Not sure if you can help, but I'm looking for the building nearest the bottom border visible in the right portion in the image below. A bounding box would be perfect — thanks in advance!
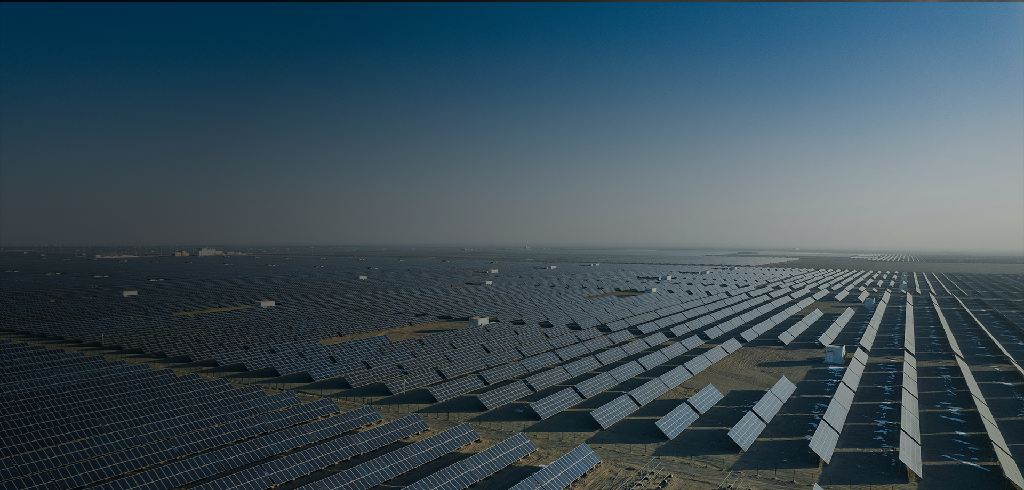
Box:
[823,343,847,365]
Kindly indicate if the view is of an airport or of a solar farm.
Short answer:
solar farm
